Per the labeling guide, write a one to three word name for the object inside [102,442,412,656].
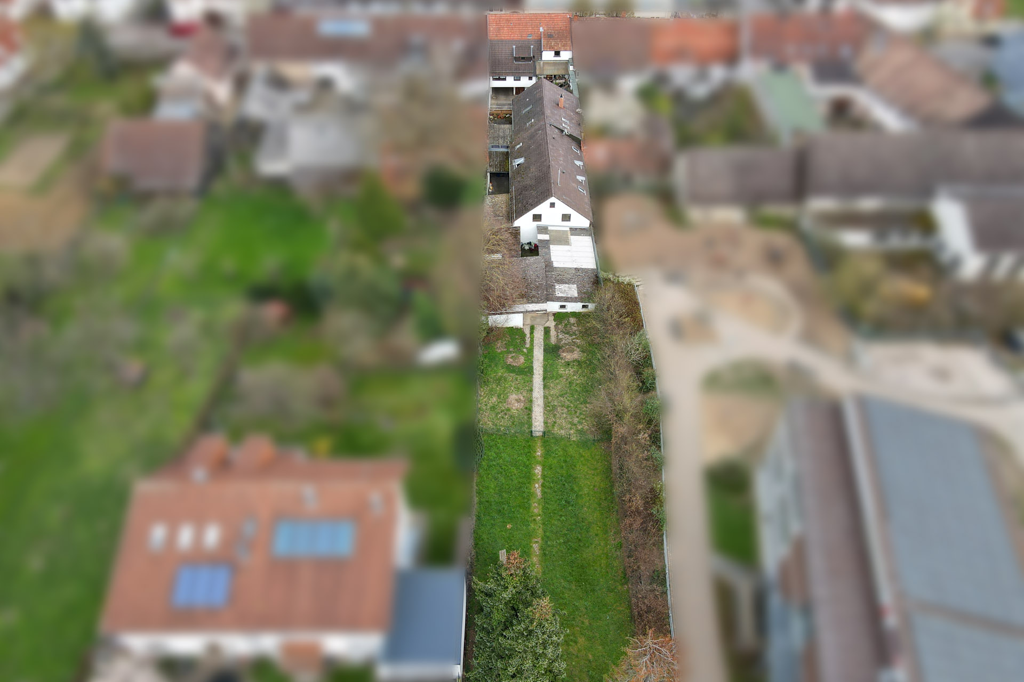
house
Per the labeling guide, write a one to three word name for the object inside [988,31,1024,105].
building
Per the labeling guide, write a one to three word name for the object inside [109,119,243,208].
barn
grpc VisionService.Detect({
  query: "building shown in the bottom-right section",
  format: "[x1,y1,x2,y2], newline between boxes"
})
[778,395,1024,682]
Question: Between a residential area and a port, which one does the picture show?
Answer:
residential area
